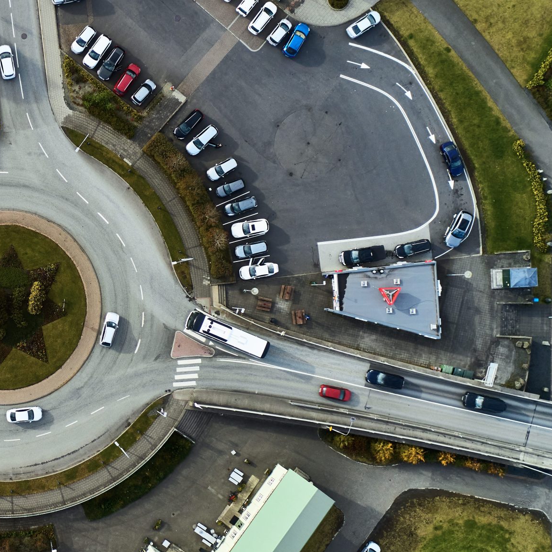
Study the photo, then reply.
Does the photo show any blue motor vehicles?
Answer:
Yes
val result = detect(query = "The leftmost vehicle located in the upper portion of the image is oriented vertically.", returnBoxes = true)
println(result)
[0,46,14,79]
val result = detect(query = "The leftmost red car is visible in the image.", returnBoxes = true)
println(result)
[114,64,139,95]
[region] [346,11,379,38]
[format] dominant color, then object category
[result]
white car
